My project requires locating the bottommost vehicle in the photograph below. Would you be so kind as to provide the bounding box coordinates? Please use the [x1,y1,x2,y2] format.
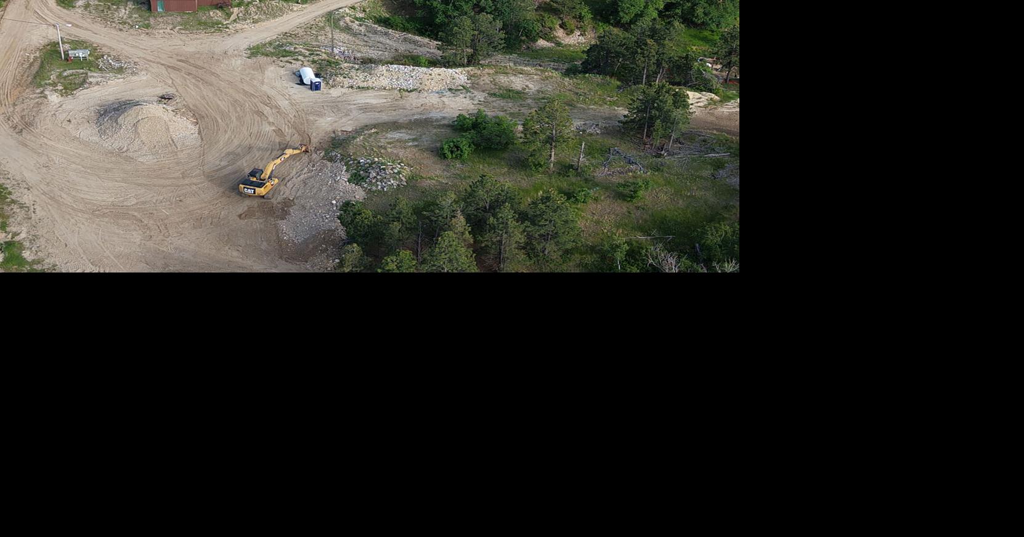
[237,140,310,199]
